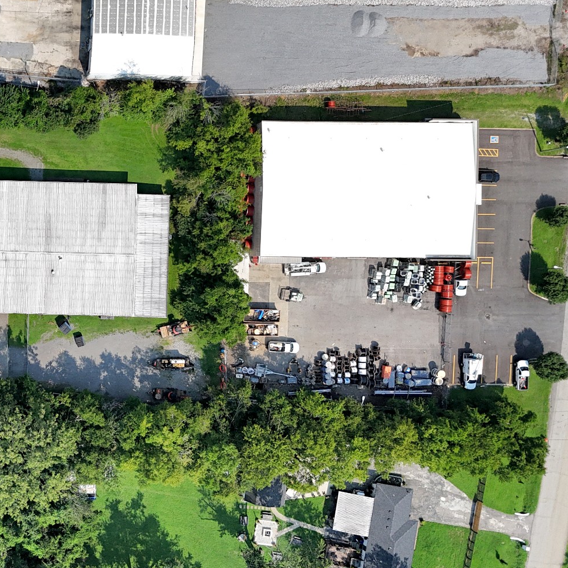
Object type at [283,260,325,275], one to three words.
vehicle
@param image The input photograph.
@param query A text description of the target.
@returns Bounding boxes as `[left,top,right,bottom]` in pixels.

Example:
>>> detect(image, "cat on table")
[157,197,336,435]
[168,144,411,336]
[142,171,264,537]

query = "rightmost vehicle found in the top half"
[479,169,502,183]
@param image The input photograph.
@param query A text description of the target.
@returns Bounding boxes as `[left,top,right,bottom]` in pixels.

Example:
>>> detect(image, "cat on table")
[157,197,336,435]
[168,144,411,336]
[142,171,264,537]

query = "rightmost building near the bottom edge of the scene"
[363,484,419,568]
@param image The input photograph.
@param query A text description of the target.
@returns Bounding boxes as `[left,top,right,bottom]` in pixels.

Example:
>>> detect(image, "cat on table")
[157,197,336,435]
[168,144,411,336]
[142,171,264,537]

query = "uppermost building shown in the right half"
[250,118,484,264]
